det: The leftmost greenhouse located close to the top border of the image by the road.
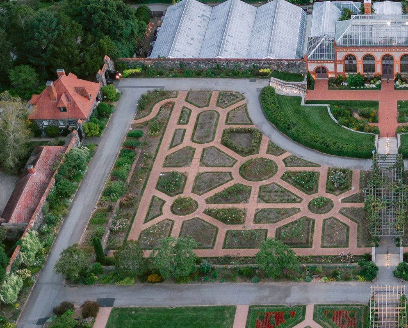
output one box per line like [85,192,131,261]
[149,0,309,60]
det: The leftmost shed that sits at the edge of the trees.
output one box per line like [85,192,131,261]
[0,146,64,238]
